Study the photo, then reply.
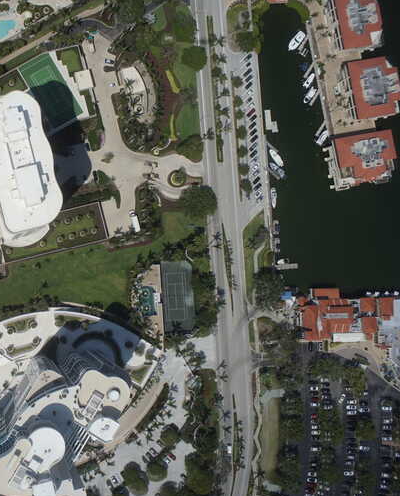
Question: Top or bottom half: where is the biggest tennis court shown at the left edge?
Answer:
top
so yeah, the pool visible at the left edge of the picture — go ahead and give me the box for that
[0,18,18,39]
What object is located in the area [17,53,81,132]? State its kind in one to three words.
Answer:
tennis court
